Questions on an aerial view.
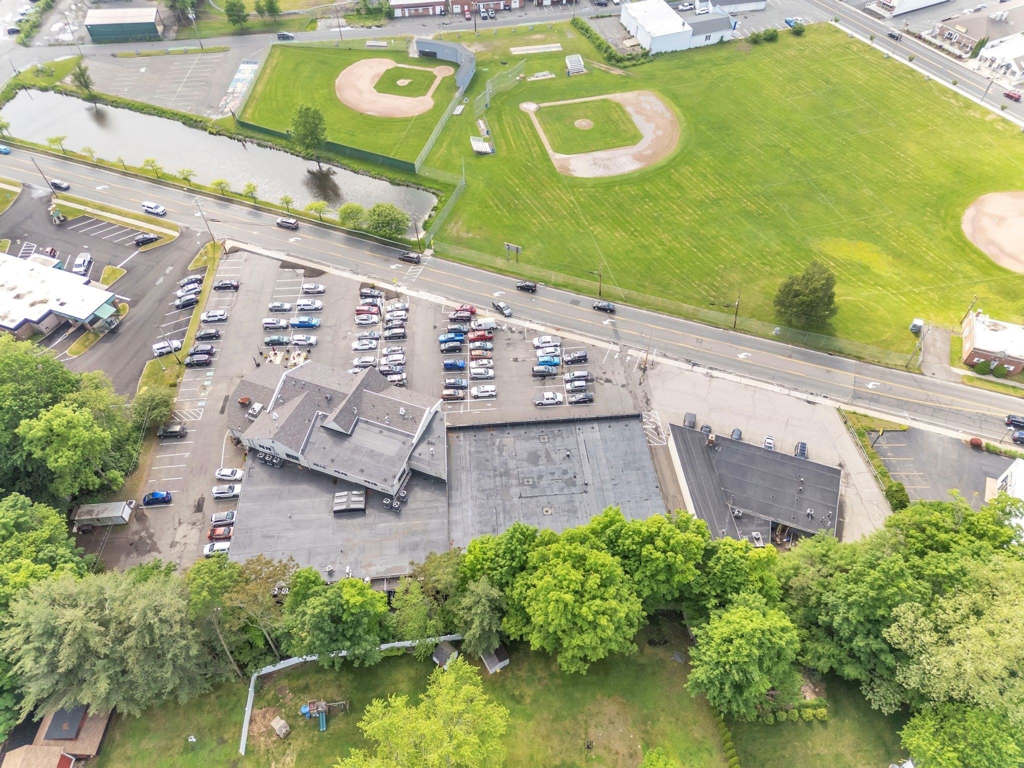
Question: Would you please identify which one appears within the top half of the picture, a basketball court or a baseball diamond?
baseball diamond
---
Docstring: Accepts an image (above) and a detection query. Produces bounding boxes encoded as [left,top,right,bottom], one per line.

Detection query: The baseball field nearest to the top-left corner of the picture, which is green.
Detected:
[240,45,461,173]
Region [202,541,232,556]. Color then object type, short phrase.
white car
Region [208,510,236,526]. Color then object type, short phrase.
white car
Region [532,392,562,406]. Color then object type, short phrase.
white vehicle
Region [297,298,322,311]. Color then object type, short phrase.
white vehicle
